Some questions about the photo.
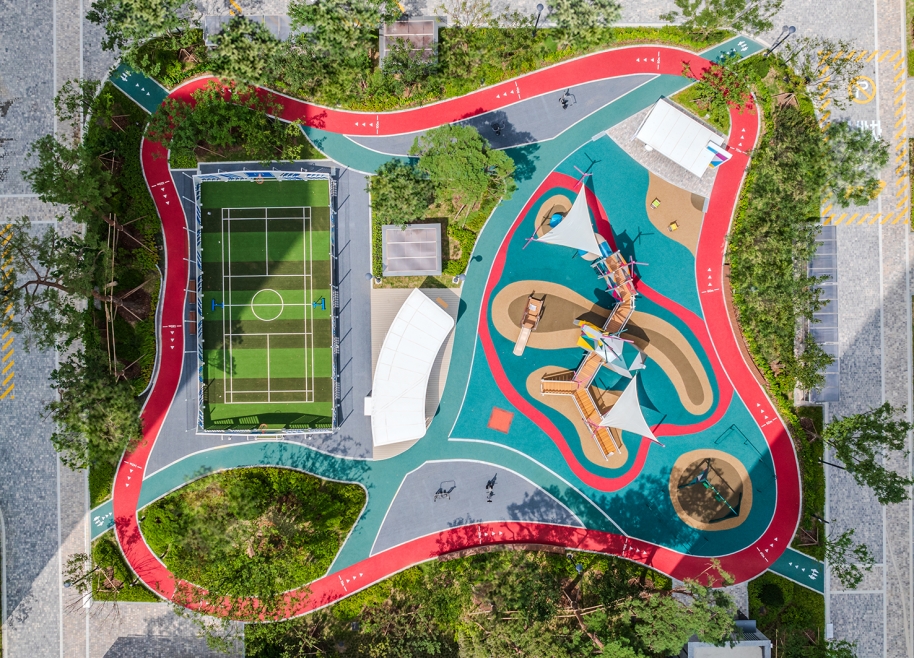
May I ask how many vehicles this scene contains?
zero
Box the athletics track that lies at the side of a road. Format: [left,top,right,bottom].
[112,44,803,624]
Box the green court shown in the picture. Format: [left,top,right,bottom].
[203,180,333,430]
